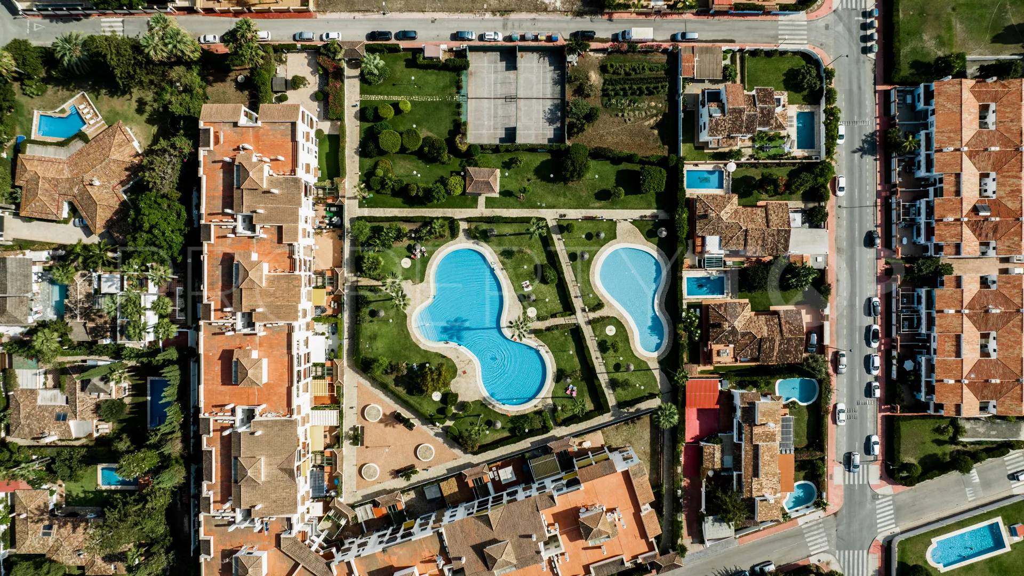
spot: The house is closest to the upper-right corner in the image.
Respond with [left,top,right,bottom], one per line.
[909,79,1024,257]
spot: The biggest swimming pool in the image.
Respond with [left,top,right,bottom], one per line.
[413,244,551,410]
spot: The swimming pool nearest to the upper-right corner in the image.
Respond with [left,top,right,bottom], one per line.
[795,110,817,150]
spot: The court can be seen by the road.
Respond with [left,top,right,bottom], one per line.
[469,51,565,144]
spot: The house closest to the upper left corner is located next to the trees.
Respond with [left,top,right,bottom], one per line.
[16,120,145,238]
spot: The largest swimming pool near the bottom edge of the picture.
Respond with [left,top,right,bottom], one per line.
[925,516,1011,573]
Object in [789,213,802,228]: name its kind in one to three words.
gazebo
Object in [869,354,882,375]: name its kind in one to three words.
vehicle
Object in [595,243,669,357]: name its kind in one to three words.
swimming pool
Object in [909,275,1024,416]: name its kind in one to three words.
house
